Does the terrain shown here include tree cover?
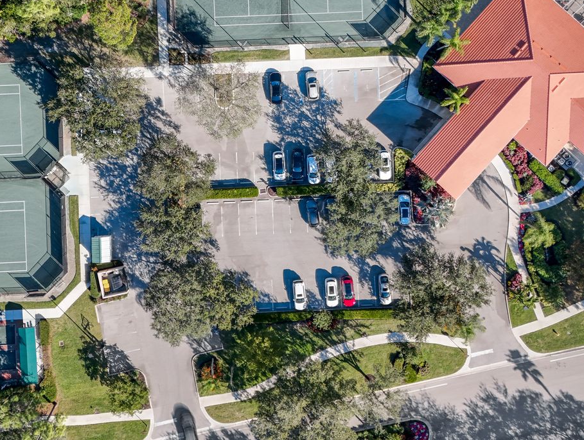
Yes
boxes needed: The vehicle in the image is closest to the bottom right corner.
[379,274,392,305]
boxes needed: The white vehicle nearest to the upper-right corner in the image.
[379,150,392,181]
